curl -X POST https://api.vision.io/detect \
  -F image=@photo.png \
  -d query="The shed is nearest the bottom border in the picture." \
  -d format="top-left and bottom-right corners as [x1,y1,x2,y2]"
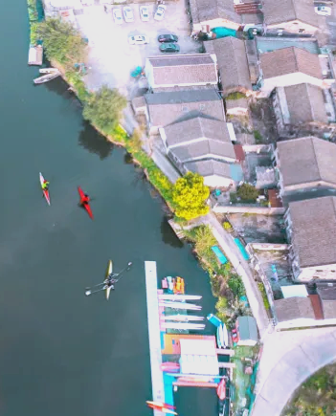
[234,315,260,346]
